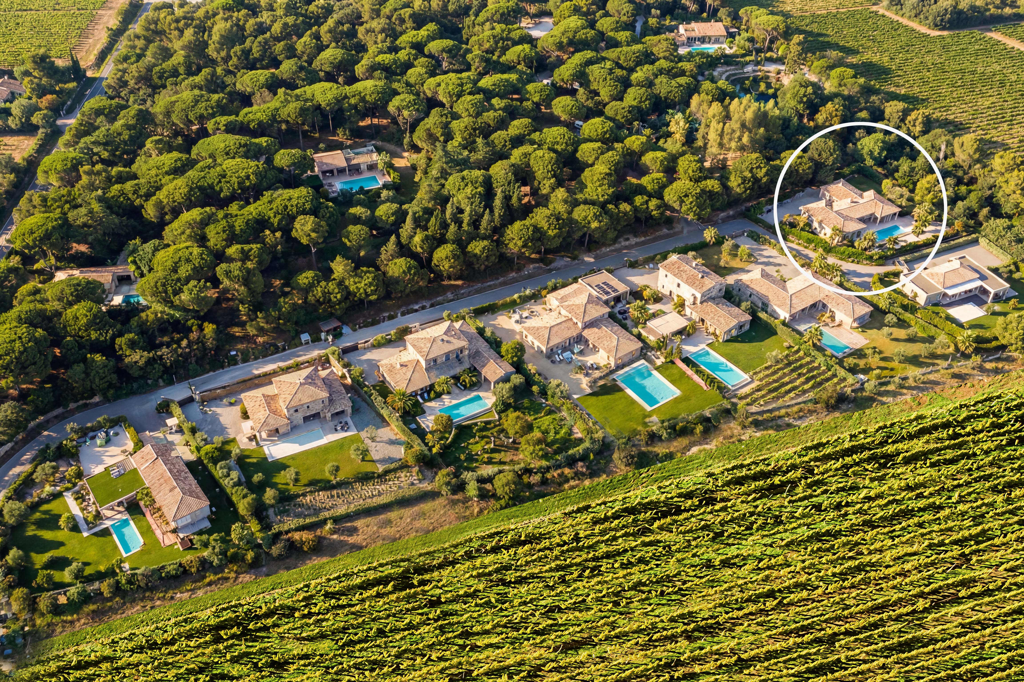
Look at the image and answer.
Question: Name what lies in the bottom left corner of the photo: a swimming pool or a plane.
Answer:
swimming pool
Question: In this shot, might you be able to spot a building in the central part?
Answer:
Yes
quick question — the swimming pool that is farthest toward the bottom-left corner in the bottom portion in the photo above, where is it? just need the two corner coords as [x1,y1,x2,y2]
[106,515,147,556]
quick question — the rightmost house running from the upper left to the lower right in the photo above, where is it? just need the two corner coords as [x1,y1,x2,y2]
[659,255,752,340]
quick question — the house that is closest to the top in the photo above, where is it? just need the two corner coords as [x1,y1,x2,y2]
[673,18,739,46]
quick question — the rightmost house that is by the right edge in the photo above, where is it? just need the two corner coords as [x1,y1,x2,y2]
[897,251,1016,305]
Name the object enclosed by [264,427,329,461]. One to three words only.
swimming pool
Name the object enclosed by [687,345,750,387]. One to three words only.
swimming pool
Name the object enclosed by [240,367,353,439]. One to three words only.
house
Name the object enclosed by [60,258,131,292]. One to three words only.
house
